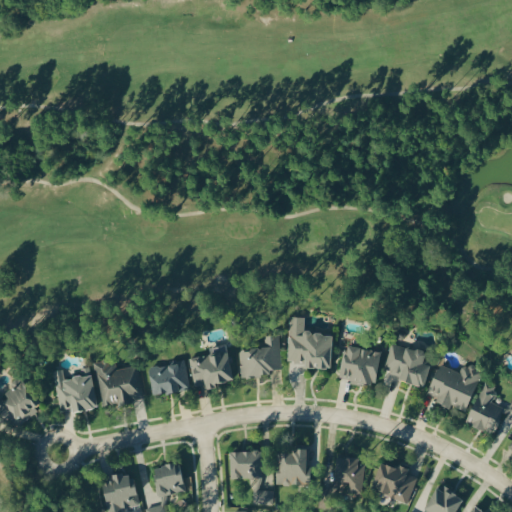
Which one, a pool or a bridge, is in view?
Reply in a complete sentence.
The one in the frame is a pool.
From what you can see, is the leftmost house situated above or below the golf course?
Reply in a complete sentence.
The leftmost house is located below the golf course in this view.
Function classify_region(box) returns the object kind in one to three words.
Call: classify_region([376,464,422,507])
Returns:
house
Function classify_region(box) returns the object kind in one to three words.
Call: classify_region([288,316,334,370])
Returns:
house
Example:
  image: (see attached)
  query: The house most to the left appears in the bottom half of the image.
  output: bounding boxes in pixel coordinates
[0,382,38,420]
